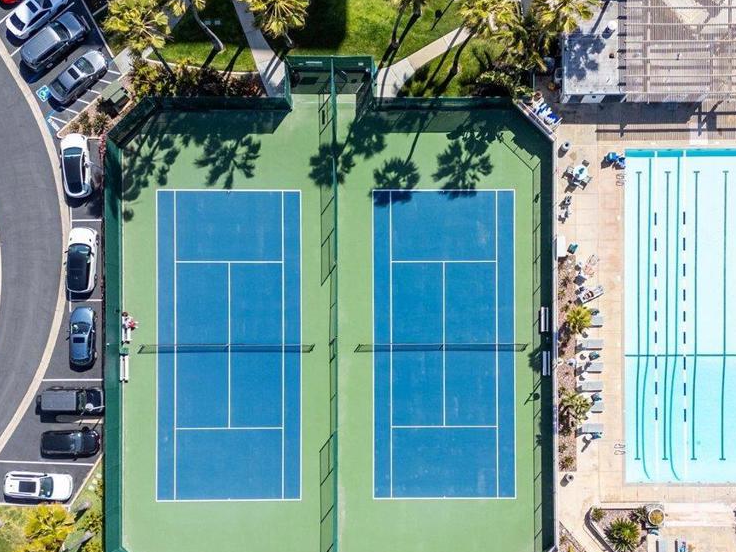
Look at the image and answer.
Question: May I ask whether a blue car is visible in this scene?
Yes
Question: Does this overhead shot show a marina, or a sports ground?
sports ground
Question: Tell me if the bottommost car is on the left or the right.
left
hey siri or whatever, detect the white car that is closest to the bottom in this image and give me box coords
[1,471,76,502]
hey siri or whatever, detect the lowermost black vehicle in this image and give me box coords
[38,430,103,459]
